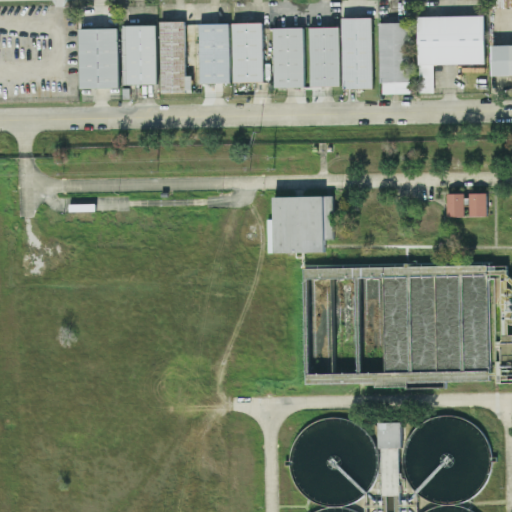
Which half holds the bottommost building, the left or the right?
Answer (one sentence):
The bottommost building appears in the right half of the scene.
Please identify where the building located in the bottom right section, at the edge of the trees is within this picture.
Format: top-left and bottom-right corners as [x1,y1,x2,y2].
[377,422,402,448]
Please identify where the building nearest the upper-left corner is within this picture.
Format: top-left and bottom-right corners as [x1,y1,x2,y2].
[78,28,120,90]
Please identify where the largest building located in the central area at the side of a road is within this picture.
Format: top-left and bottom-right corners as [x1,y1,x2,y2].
[266,196,336,254]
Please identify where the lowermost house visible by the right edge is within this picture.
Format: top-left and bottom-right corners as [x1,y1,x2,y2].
[446,194,488,218]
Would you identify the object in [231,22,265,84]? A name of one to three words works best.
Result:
building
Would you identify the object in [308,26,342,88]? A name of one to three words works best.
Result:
building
